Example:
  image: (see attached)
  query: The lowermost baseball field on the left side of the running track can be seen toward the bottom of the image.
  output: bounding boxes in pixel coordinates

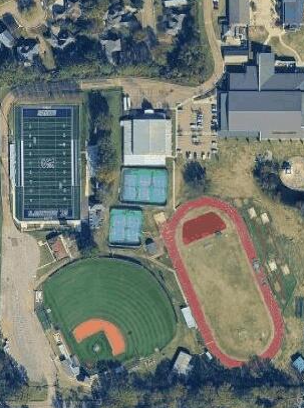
[37,258,176,371]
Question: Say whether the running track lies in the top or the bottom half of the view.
bottom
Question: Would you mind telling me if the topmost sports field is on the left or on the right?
left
